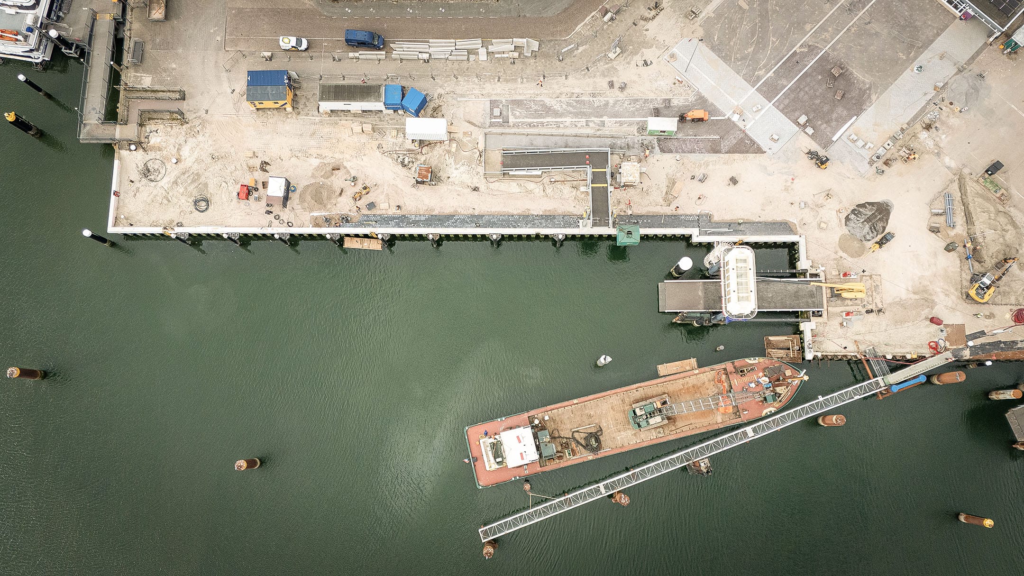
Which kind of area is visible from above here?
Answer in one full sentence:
The picture captures a port.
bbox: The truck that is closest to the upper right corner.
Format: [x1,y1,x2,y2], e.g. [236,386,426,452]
[1002,24,1024,54]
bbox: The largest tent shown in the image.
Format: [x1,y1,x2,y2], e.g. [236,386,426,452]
[268,177,294,211]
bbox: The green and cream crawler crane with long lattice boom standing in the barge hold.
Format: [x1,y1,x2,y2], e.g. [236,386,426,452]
[629,393,761,433]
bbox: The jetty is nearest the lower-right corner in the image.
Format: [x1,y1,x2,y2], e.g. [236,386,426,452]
[993,404,1024,450]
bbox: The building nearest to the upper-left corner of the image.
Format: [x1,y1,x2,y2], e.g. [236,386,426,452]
[246,86,292,111]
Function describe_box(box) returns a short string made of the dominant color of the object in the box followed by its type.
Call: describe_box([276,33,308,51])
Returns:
white vehicle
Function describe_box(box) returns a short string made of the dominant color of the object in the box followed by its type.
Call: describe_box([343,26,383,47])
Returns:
blue vehicle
